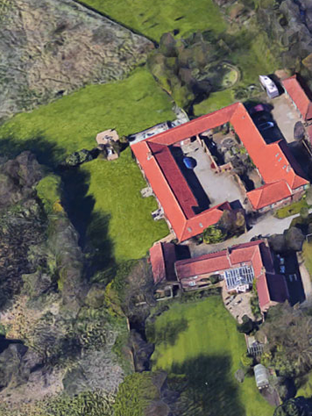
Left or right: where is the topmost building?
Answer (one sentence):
The topmost building appears in the right half of the scene.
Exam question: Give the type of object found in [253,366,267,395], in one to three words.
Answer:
shed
